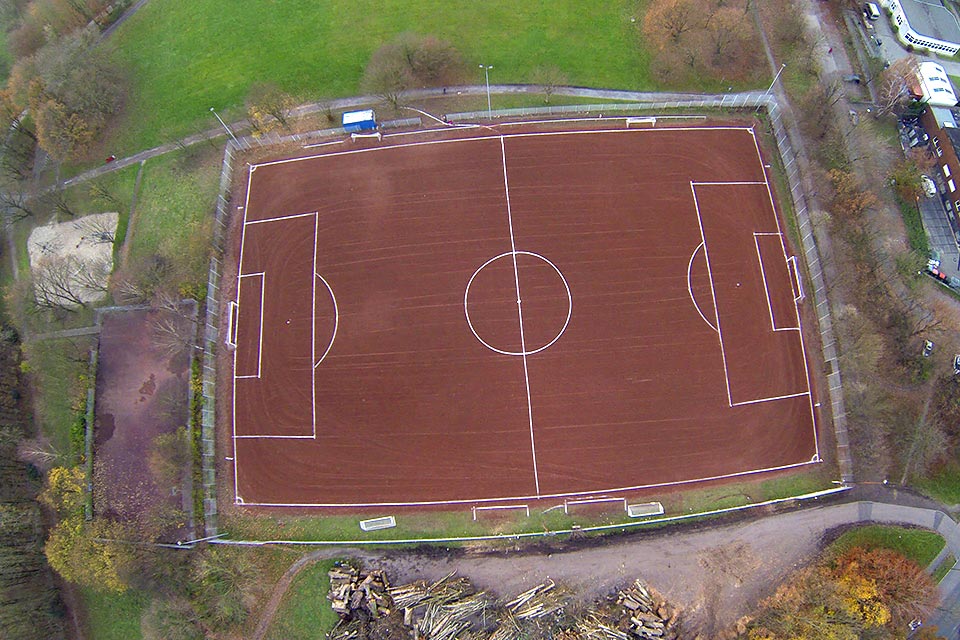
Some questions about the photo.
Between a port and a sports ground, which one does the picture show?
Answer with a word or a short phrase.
sports ground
